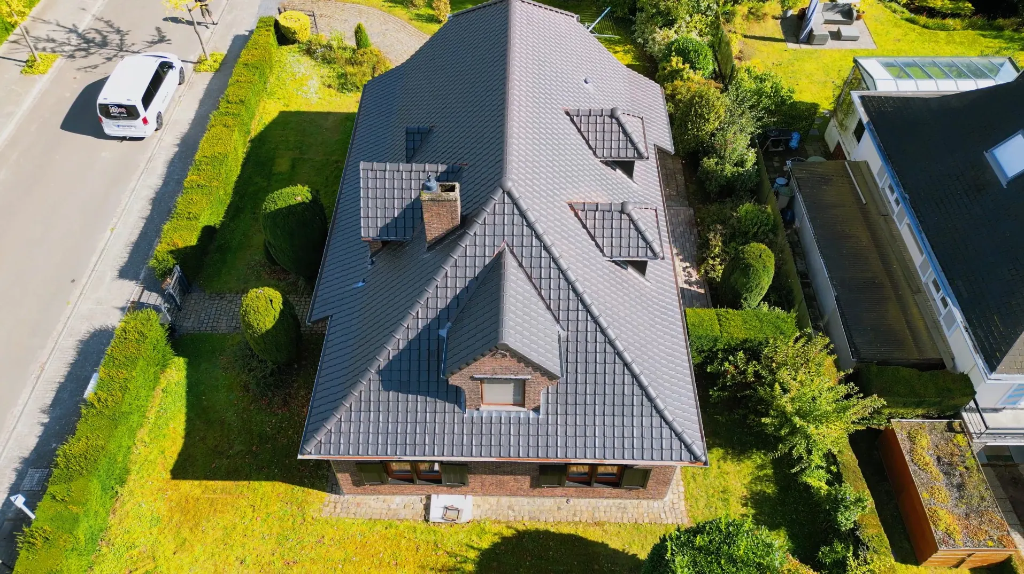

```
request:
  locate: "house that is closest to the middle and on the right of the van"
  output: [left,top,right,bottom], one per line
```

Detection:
[292,0,714,508]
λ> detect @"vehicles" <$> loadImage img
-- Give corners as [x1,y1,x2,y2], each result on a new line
[91,57,185,146]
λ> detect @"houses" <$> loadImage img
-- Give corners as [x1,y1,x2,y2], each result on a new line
[820,64,1024,459]
[292,0,714,508]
